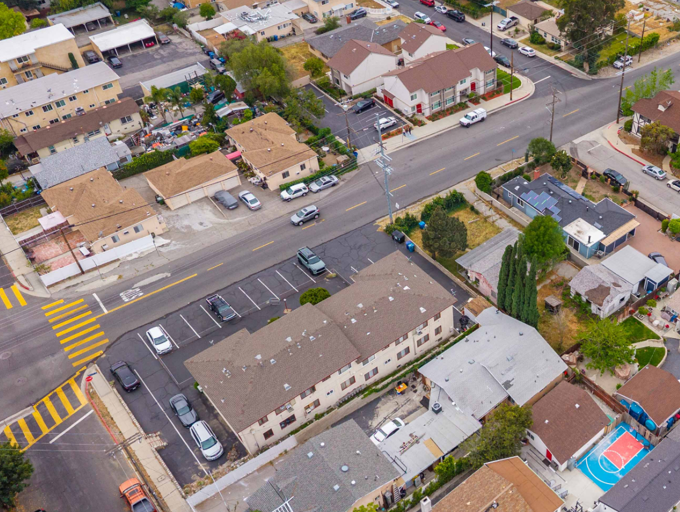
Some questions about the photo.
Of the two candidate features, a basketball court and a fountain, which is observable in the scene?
basketball court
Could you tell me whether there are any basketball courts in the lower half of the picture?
Yes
